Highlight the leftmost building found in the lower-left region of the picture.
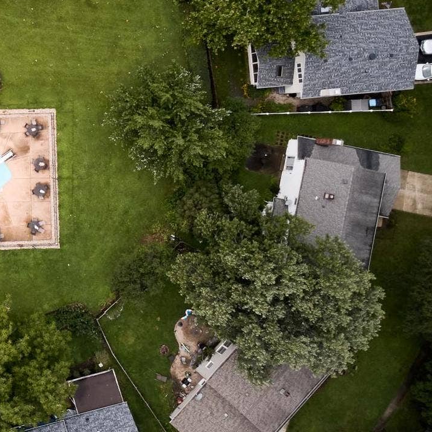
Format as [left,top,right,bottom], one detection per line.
[33,365,139,432]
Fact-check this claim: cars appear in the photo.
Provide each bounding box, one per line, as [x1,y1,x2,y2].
[415,63,432,82]
[418,39,432,56]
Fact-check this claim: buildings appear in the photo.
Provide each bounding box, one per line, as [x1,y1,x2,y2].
[164,337,330,432]
[33,365,139,432]
[244,0,419,100]
[263,135,401,269]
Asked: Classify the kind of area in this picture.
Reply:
residential area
